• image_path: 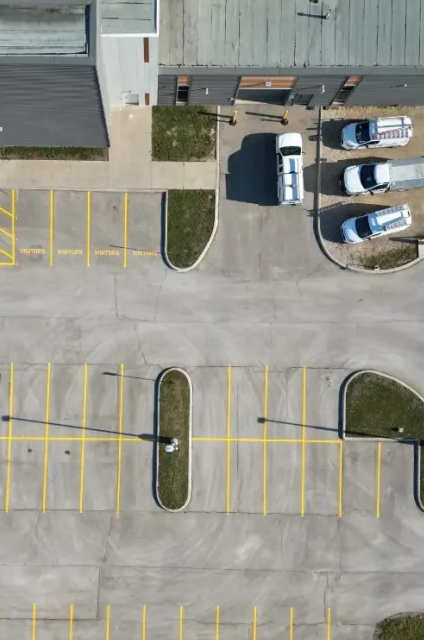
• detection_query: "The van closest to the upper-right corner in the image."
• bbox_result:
[340,116,412,152]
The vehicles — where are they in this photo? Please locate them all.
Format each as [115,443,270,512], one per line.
[338,161,424,196]
[339,203,411,245]
[340,116,412,152]
[275,131,307,206]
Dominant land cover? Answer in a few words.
paved ground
